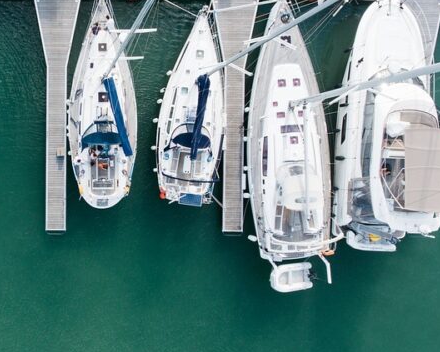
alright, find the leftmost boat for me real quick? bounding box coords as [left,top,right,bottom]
[69,0,157,208]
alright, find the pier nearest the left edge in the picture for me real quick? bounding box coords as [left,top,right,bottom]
[35,0,80,233]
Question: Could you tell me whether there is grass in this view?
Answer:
No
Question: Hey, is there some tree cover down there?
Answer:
No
